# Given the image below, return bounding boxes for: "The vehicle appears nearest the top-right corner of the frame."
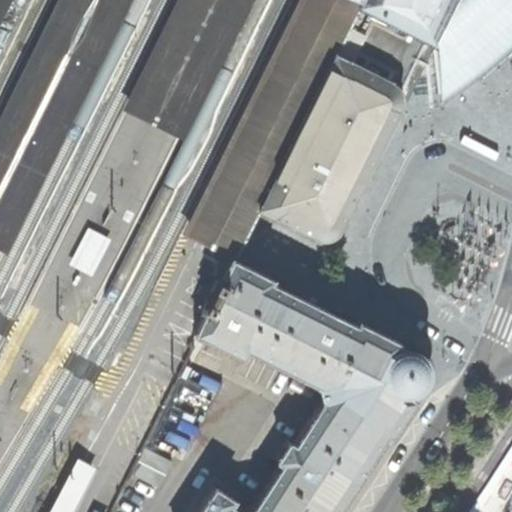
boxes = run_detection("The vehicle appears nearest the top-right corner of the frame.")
[424,146,446,158]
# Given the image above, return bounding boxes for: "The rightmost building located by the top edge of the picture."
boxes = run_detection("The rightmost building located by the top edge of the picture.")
[437,0,512,103]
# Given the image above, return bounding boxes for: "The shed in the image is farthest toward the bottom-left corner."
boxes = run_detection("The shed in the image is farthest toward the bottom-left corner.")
[50,458,96,512]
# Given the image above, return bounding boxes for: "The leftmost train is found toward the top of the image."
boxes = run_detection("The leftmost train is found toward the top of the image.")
[68,0,148,140]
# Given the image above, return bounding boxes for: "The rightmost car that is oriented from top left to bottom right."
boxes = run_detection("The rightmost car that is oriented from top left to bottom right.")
[442,337,465,356]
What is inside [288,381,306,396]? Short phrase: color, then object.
white vehicle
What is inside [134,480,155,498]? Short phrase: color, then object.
white car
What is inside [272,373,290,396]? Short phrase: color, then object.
white vehicle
